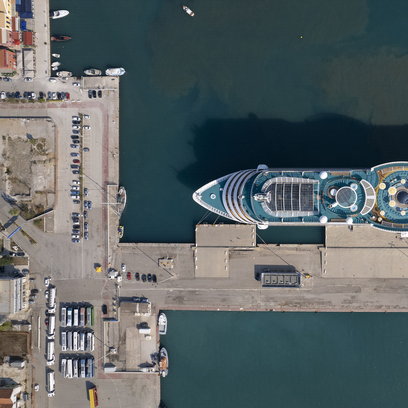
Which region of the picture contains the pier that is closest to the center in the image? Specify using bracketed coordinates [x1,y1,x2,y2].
[195,225,257,246]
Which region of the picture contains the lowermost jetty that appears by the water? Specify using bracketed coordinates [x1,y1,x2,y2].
[119,242,408,353]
